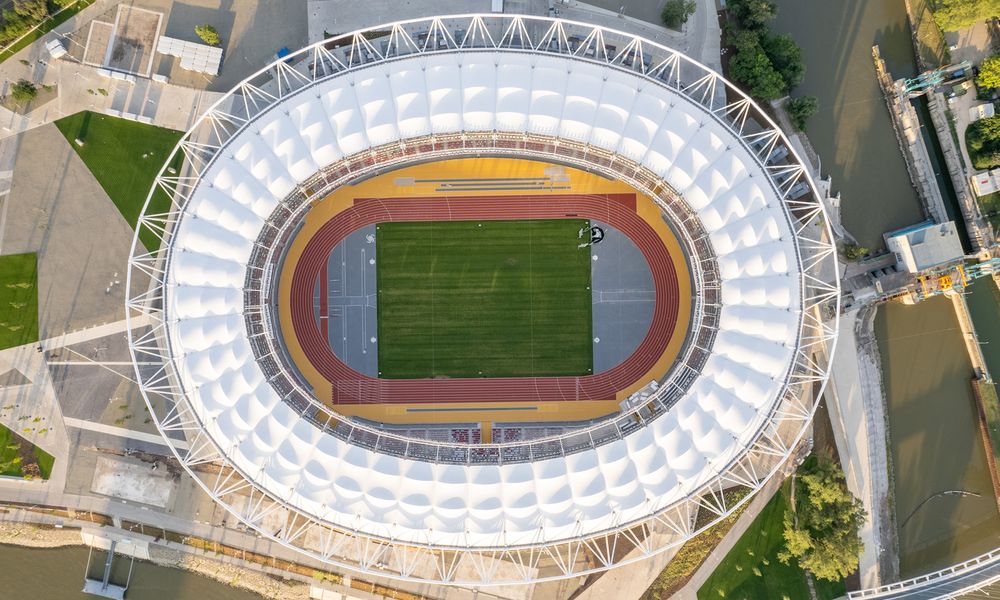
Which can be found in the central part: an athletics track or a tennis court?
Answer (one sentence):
Looking in the central part, you will find an athletics track.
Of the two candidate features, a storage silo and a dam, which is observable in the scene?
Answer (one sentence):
Of the two, only a dam appears.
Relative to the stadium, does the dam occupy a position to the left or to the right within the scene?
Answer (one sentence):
In the image, the dam sits on the right side of the stadium.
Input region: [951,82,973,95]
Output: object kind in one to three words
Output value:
vehicle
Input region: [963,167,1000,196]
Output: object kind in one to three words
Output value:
house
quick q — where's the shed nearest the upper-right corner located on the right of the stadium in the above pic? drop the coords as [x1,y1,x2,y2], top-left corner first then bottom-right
[965,102,995,122]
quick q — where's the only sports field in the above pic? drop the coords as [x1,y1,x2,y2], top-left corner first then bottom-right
[376,219,593,379]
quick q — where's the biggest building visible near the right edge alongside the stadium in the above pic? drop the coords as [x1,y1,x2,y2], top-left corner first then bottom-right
[873,216,965,274]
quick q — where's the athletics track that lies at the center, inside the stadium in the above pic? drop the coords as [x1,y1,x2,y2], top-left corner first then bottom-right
[289,193,680,405]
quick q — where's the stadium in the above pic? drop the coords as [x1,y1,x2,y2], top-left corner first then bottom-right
[127,14,841,583]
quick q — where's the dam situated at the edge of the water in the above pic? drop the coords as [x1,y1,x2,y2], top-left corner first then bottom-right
[843,254,960,312]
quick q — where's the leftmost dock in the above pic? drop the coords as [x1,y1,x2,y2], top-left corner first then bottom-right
[83,537,135,600]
